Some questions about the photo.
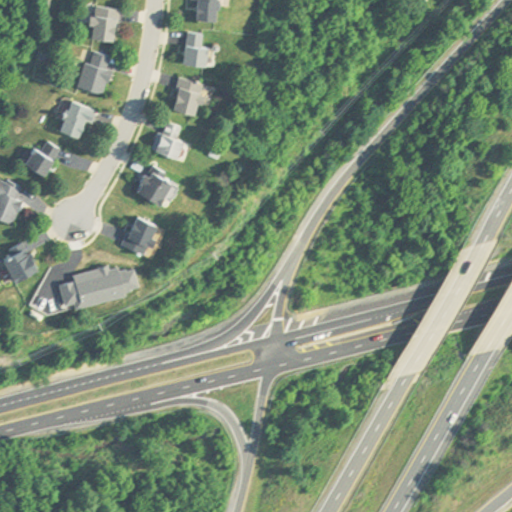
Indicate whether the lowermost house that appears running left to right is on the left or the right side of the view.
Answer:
left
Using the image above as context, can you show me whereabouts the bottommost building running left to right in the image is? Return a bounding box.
[58,264,136,309]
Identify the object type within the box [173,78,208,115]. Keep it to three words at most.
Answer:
house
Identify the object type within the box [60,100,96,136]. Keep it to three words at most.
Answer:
house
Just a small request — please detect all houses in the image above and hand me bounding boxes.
[154,121,187,158]
[0,178,25,219]
[122,216,162,250]
[78,51,115,94]
[182,33,214,68]
[26,141,59,174]
[196,0,218,23]
[173,78,208,115]
[58,264,136,309]
[5,244,39,282]
[60,100,96,136]
[139,166,174,203]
